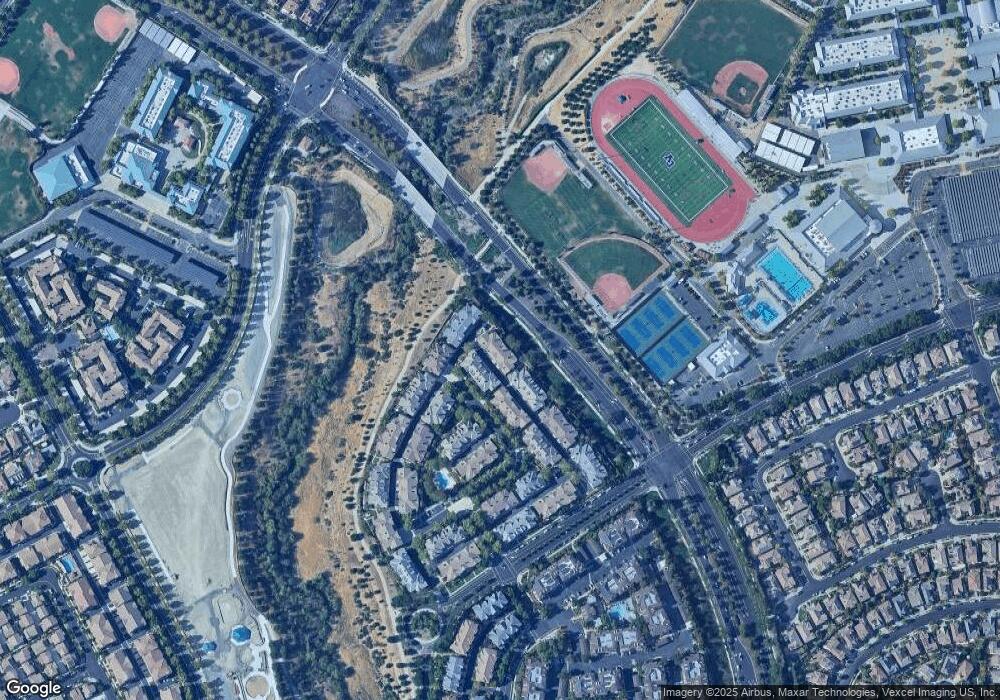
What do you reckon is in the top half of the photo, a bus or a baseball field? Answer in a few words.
baseball field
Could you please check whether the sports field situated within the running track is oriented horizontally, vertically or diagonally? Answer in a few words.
diagonally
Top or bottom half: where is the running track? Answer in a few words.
top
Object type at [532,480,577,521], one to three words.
building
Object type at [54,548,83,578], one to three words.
swimming pool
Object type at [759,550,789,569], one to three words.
house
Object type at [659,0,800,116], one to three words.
baseball field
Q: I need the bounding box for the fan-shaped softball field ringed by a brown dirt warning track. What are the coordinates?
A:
[561,233,669,314]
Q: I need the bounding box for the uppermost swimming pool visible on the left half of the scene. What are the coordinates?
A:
[103,324,120,343]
